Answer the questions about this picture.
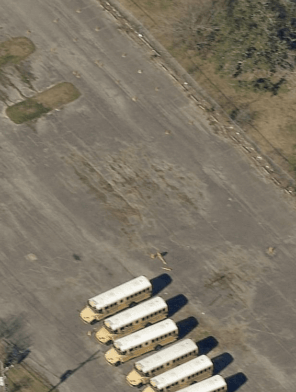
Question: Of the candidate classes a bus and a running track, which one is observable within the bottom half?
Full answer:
Looking within the bottom half, you will find a bus.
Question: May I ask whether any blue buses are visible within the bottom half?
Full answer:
No, there is no blue bus within the bottom half.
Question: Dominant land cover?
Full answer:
The scene is dominated by paved ground.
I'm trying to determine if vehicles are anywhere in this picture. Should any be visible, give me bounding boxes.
[142,355,214,392]
[178,373,227,392]
[77,275,153,326]
[124,339,198,390]
[94,296,169,347]
[103,318,178,369]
